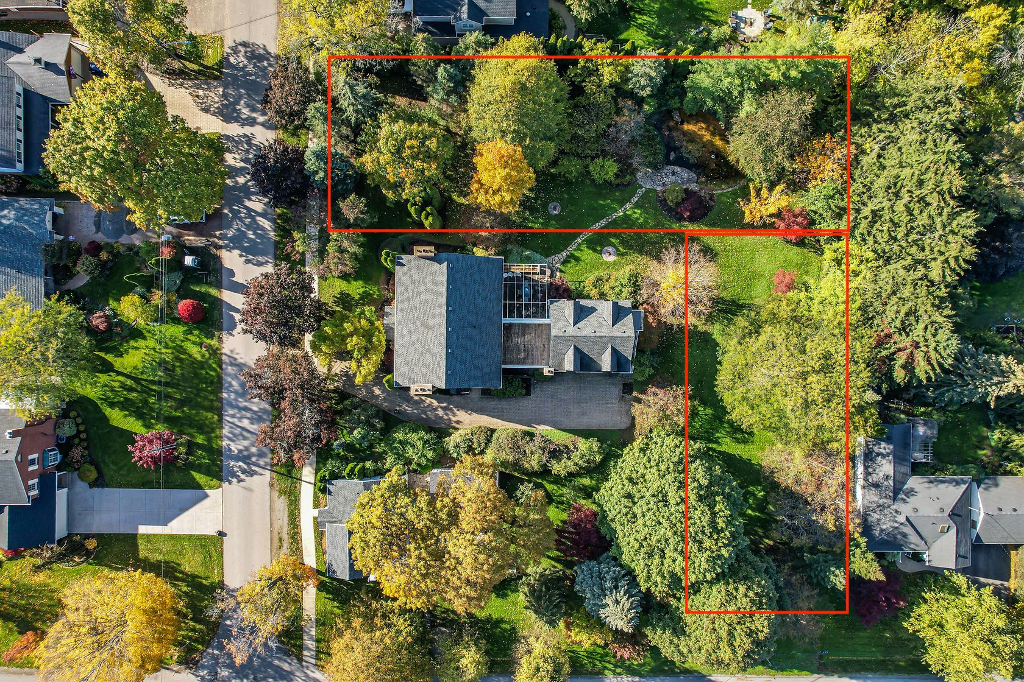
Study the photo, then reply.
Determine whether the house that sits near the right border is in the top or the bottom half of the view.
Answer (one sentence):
The house that sits near the right border sits in the bottom half of the picture.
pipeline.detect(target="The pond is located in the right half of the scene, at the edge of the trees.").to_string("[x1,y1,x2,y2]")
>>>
[644,104,745,183]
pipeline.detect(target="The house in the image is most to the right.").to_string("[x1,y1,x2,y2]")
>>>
[855,423,1024,573]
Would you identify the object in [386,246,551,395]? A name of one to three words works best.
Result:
house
